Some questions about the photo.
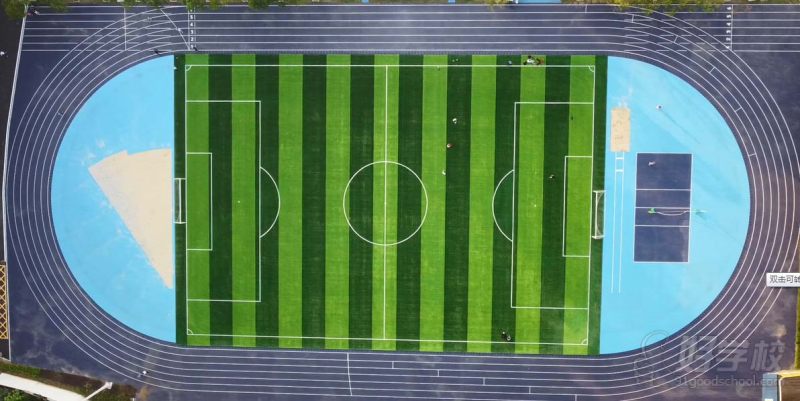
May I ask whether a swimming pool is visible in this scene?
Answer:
No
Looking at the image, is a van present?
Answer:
No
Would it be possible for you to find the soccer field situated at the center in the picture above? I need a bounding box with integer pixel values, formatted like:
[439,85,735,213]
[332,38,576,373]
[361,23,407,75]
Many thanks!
[174,54,607,356]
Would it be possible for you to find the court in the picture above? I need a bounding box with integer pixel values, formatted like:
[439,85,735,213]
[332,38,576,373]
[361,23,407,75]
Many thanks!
[634,152,692,263]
